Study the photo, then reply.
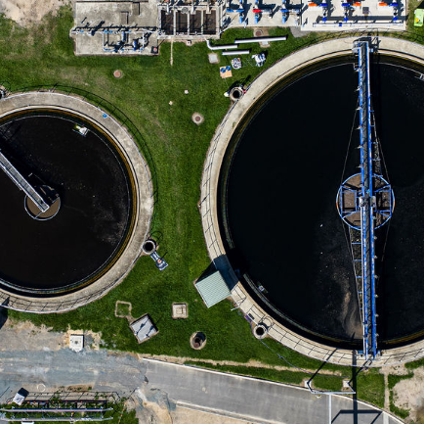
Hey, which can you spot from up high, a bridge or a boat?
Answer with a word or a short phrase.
bridge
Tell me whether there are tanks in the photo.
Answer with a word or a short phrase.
Yes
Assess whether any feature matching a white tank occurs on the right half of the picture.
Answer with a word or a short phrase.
No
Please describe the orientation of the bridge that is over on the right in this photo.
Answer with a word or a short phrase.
vertically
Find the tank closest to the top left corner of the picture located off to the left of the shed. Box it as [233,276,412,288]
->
[0,91,153,313]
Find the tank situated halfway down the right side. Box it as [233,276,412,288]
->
[200,31,424,369]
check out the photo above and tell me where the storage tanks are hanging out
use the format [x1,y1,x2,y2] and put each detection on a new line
[0,91,153,313]
[200,31,424,369]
